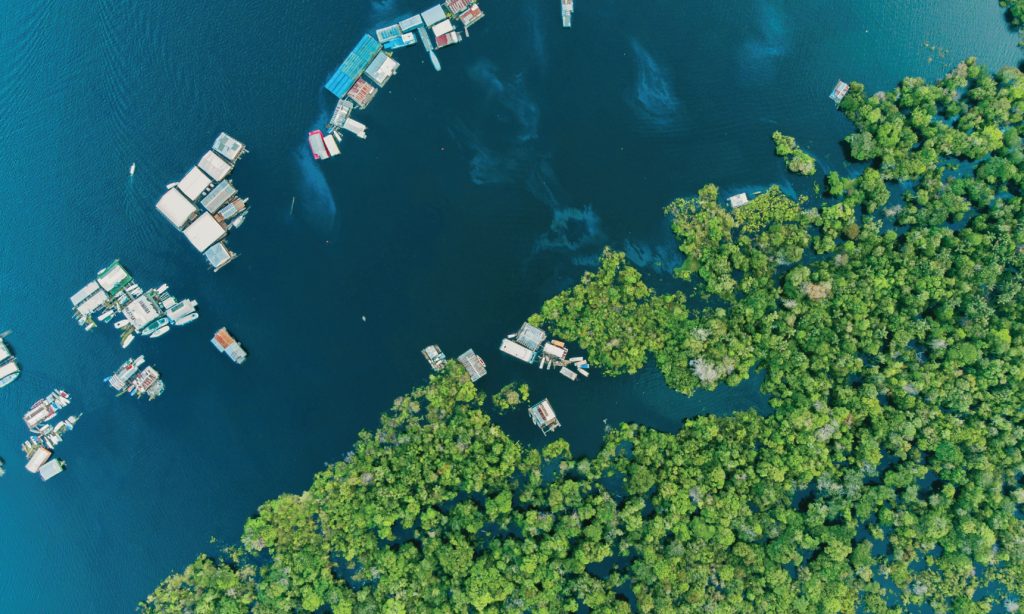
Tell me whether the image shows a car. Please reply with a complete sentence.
No, I can see no car in this picture.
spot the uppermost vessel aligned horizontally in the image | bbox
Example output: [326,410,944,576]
[383,34,418,47]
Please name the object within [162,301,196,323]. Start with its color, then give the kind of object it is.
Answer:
white boat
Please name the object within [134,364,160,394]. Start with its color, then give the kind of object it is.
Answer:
white boat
